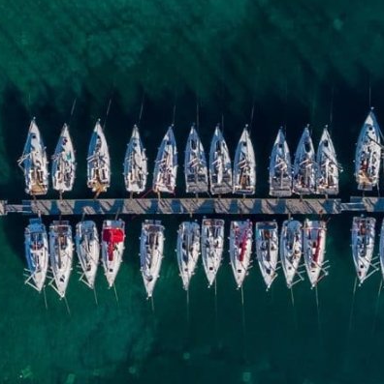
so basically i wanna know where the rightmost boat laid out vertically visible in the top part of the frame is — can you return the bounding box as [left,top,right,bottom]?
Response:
[354,98,384,199]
